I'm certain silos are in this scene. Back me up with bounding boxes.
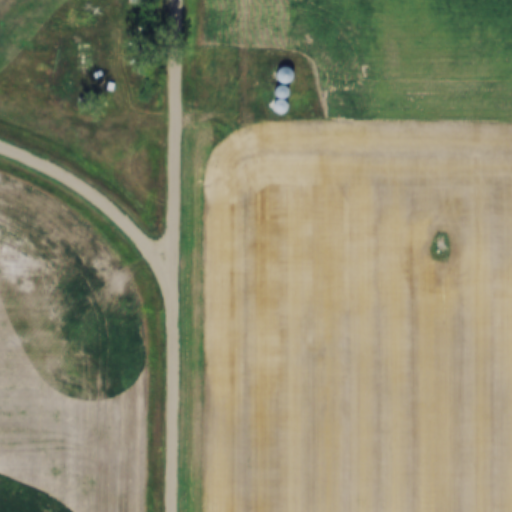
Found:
[273,100,289,116]
[274,85,290,100]
[276,66,295,86]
